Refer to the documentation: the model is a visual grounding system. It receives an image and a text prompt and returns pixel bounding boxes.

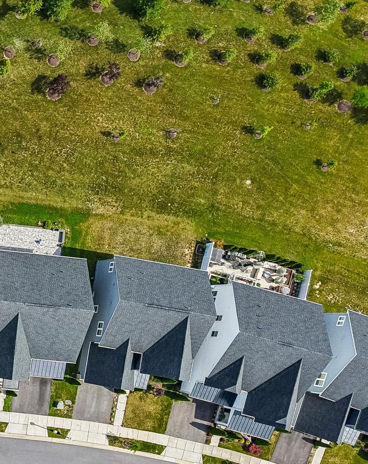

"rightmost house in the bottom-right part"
[290,311,368,446]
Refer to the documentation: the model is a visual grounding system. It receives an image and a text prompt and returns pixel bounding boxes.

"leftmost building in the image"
[0,249,95,391]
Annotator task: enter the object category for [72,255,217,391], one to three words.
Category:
house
